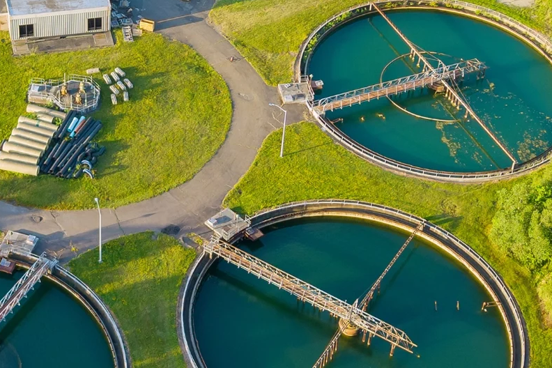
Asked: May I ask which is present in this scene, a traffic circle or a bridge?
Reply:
bridge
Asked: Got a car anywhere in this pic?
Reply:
No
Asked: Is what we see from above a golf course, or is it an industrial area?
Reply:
industrial area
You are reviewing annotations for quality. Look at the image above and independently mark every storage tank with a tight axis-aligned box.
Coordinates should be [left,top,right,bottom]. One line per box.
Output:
[182,199,526,368]
[0,225,127,368]
[280,0,552,181]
